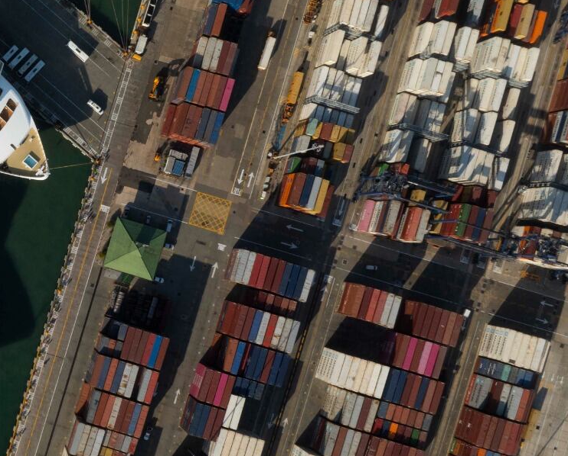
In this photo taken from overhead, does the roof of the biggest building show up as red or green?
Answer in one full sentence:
In this view, the roof of the biggest building is green.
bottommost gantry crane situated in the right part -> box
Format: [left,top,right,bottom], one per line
[472,210,568,263]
